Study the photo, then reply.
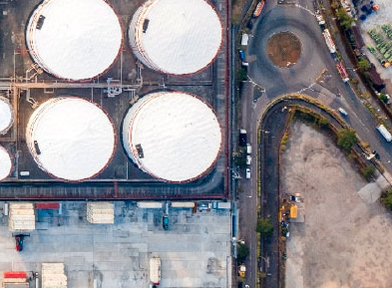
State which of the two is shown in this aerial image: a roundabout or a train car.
roundabout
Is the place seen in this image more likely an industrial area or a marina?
industrial area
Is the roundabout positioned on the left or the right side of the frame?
right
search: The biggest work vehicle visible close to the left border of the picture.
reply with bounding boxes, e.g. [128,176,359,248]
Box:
[12,234,31,251]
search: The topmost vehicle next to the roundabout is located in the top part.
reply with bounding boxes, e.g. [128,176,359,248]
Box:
[252,0,267,17]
